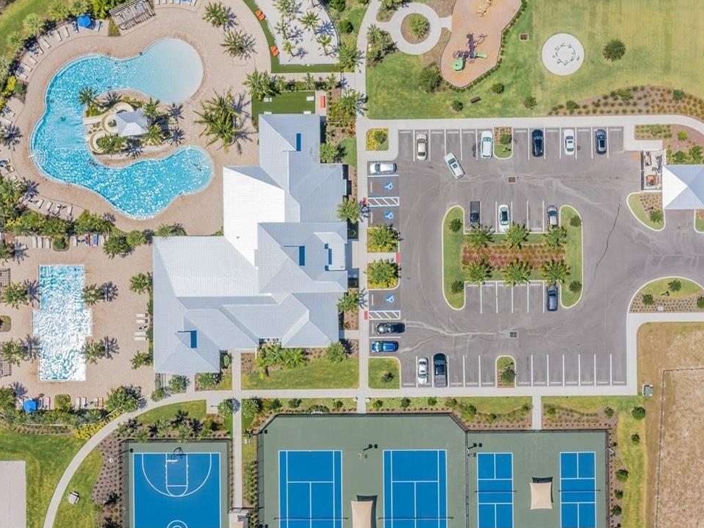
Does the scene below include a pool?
Yes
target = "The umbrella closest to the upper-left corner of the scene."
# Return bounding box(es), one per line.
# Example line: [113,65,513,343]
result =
[78,14,92,28]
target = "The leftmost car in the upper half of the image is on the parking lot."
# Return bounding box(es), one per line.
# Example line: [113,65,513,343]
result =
[369,161,395,174]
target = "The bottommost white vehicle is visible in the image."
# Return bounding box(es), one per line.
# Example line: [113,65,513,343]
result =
[417,357,429,385]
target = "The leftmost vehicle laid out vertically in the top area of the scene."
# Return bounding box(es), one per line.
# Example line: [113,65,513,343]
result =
[415,133,428,160]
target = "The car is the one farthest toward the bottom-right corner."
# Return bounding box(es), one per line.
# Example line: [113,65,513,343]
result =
[546,282,559,309]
